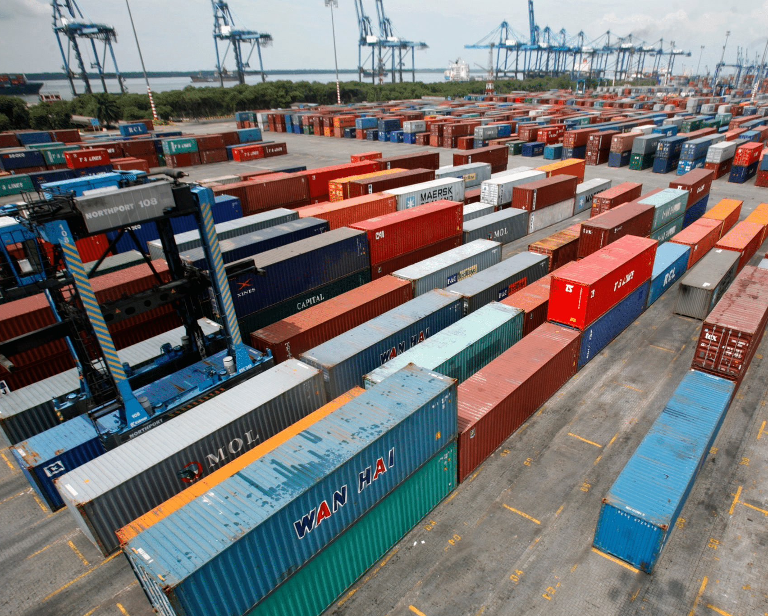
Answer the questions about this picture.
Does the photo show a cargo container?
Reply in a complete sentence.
Yes, a cargo container appears in the view.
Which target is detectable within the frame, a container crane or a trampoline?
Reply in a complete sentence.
It is a container crane that can be seen here.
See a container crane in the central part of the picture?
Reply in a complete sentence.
No, no container crane can be made out in the central part of the picture.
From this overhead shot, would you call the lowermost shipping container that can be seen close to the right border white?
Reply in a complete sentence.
No, the lowermost shipping container that can be seen close to the right border is blue.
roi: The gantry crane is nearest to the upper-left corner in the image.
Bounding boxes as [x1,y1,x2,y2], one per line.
[53,0,130,99]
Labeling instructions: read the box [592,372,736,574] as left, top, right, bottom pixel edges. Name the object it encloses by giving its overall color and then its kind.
blue shipping container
